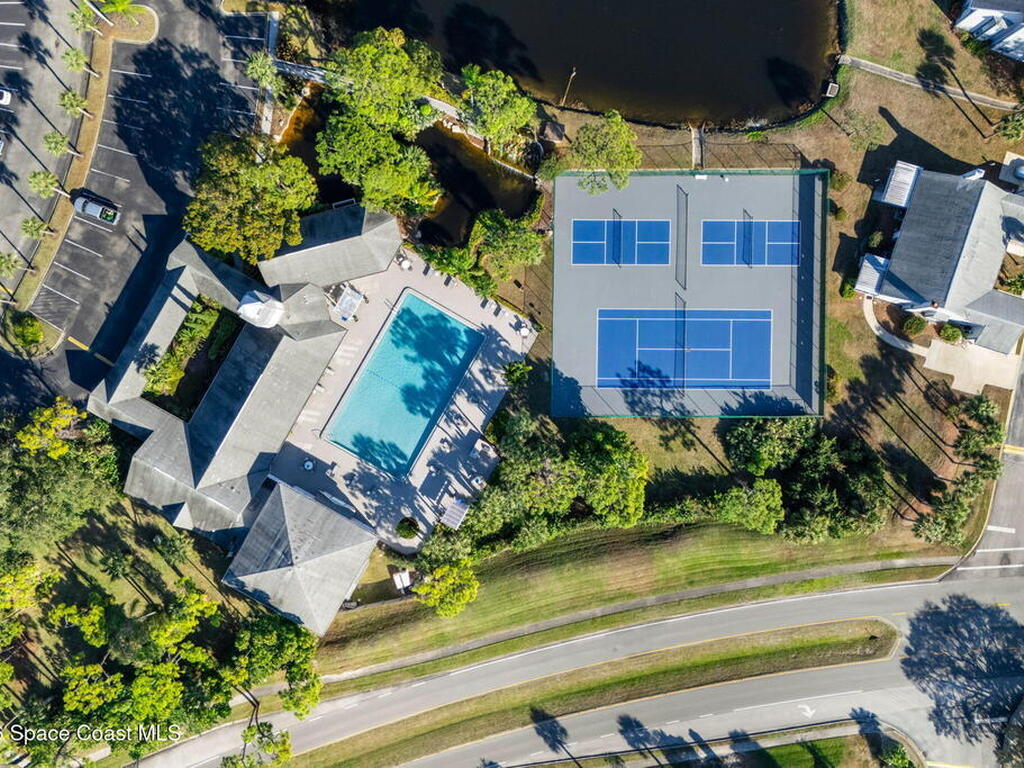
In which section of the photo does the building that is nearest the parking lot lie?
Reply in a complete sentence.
The building that is nearest the parking lot is in the left part of the image.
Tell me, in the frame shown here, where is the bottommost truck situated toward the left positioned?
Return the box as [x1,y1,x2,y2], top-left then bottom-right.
[72,194,118,220]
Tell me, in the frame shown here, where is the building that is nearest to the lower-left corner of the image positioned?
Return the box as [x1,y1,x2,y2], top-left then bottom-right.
[222,477,380,636]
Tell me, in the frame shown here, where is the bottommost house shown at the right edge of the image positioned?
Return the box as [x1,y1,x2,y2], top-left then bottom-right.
[849,162,1024,355]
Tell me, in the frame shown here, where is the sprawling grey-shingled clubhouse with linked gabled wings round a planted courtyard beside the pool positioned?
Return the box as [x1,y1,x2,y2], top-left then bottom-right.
[87,205,401,531]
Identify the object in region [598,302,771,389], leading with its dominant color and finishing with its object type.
blue tennis court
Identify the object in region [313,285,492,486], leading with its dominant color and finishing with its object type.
blue swimming pool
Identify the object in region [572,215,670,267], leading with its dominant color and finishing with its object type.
blue sports court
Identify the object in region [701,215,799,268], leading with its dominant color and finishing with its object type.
blue sports court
